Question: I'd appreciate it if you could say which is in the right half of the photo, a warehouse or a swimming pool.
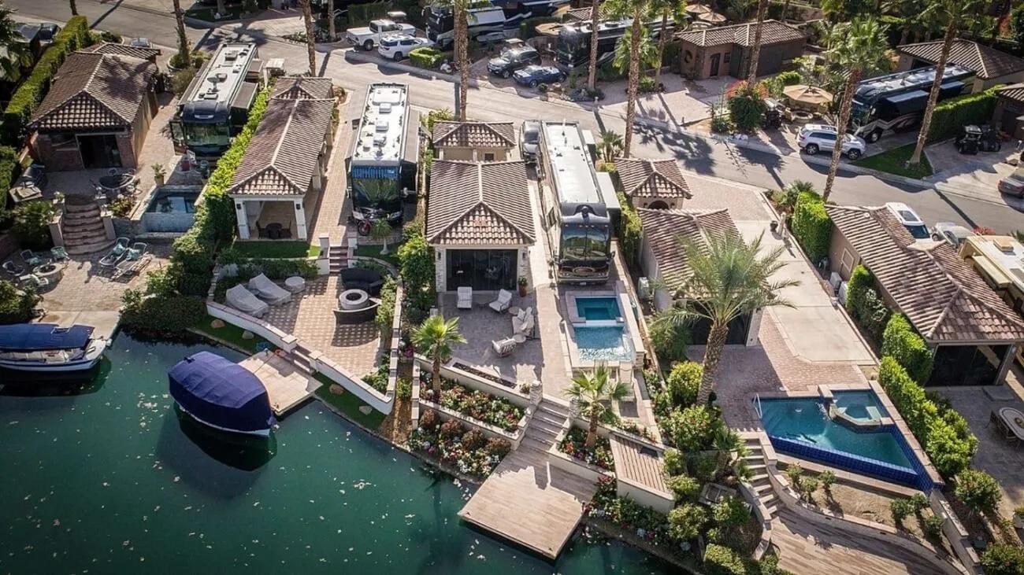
swimming pool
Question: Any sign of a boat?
Yes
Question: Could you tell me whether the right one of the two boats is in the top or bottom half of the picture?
bottom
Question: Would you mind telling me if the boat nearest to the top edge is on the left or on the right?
left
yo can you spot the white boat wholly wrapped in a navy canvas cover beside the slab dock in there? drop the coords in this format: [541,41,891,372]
[163,356,290,440]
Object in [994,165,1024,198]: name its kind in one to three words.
car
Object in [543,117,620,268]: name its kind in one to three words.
camper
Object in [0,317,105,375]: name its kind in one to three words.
boat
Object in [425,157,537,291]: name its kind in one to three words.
house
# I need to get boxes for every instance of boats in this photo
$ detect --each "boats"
[163,356,290,440]
[0,317,105,375]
